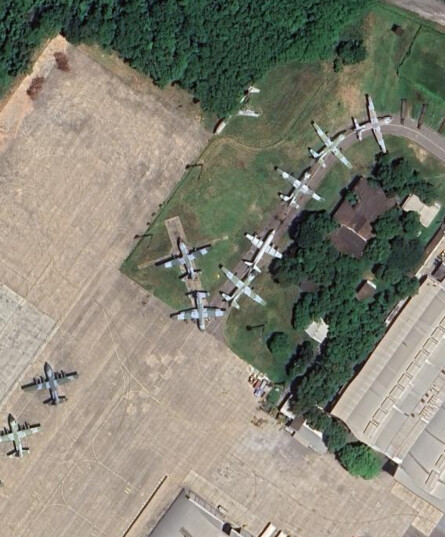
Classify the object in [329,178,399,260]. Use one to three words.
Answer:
house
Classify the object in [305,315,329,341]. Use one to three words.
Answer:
building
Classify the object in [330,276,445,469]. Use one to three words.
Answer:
hangar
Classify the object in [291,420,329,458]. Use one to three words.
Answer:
shed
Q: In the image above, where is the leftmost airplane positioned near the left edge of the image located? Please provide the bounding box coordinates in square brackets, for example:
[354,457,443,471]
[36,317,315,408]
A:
[0,417,42,464]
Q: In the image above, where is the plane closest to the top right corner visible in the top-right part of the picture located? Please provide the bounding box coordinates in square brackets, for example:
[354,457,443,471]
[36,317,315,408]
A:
[355,98,392,152]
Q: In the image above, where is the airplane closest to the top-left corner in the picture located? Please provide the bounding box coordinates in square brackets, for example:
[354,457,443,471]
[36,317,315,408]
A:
[158,240,211,285]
